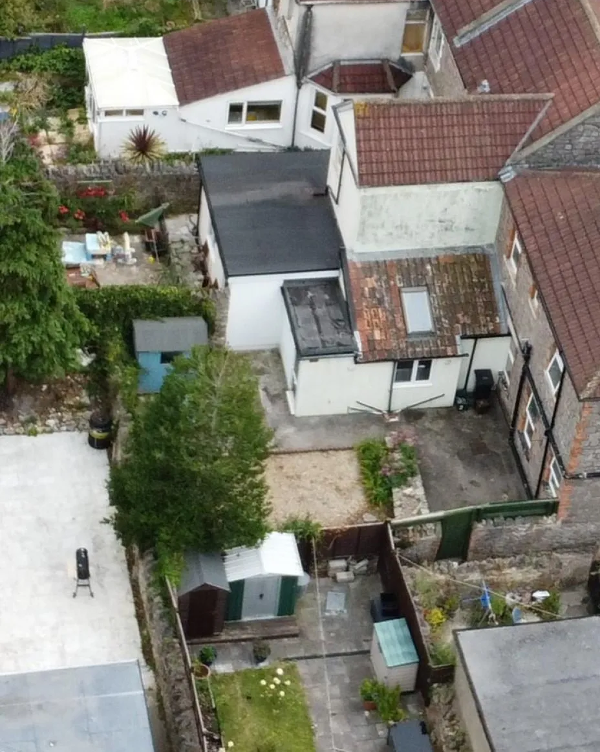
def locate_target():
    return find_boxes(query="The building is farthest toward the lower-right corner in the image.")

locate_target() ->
[452,614,600,752]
